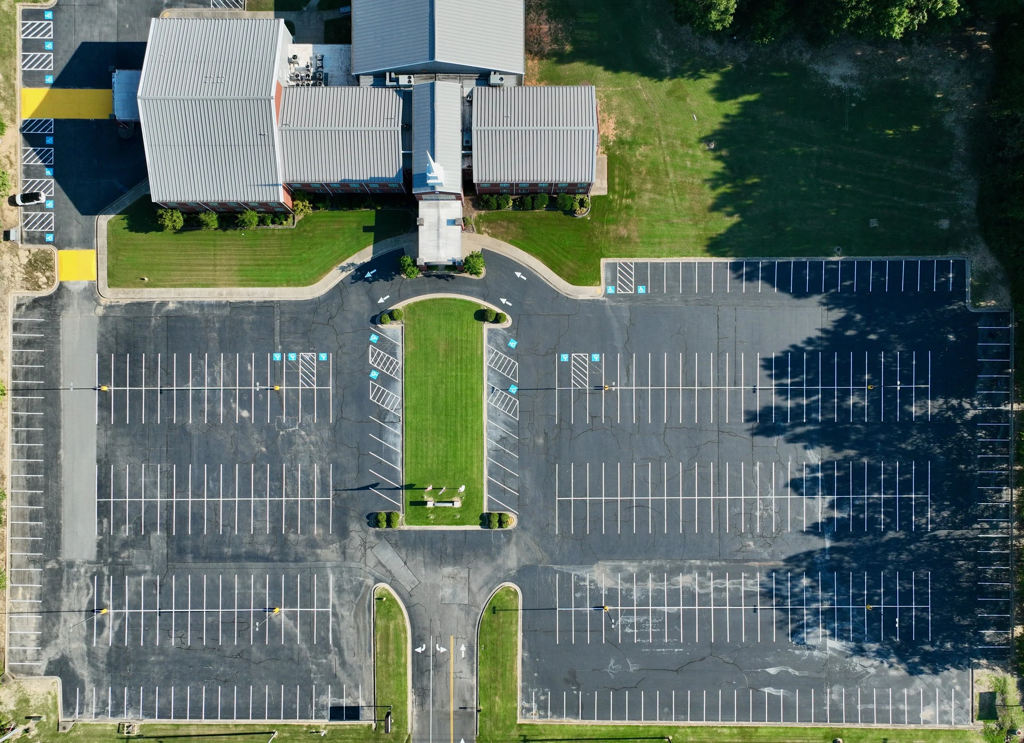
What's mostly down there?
paved ground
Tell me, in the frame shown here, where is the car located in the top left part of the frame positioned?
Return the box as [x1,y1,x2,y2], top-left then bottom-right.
[17,192,46,207]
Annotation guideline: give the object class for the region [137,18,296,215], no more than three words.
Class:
building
